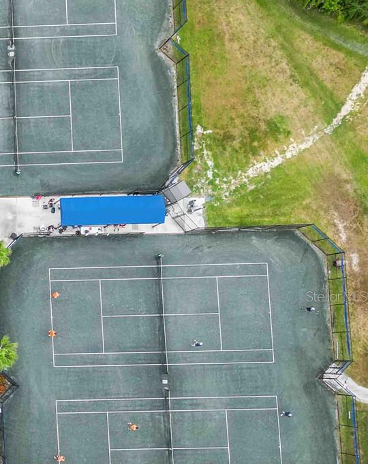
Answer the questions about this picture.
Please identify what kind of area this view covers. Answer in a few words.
sports ground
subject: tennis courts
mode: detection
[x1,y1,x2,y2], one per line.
[0,0,172,50]
[0,48,179,195]
[0,231,330,385]
[6,377,341,464]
